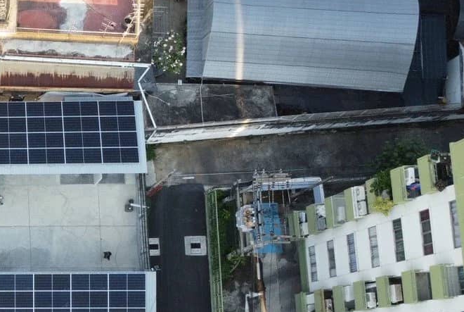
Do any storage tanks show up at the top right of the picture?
No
